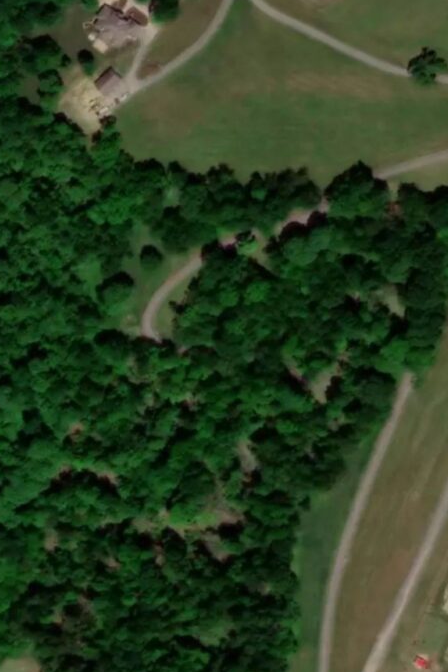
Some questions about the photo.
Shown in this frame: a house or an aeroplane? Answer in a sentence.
The image shows a house.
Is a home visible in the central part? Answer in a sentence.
No, in the central part there is no home.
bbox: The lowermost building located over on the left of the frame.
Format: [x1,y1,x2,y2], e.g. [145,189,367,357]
[97,67,124,95]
